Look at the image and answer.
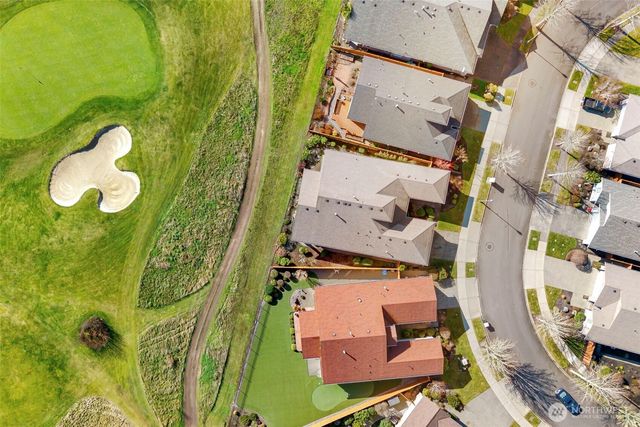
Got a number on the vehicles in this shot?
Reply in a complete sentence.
There are 2 vehicles in the image.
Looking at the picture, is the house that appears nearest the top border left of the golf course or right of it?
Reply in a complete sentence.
From the viewer's perspective, the house that appears nearest the top border falls to the right of the golf course.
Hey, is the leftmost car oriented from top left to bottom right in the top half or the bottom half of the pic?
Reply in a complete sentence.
The leftmost car oriented from top left to bottom right sits in the bottom half of the picture.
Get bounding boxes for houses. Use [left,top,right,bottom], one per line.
[391,393,462,427]
[581,263,640,354]
[346,0,508,78]
[584,178,640,263]
[599,94,640,179]
[291,149,451,266]
[294,276,443,384]
[348,56,471,161]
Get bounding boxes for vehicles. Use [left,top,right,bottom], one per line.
[554,388,584,419]
[581,94,622,119]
